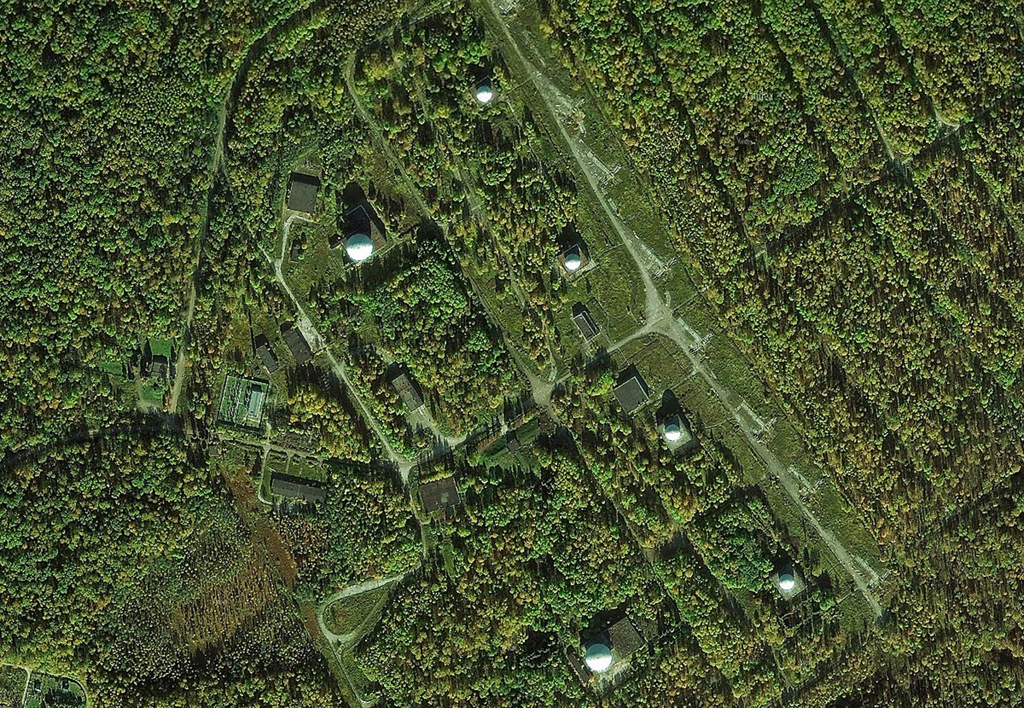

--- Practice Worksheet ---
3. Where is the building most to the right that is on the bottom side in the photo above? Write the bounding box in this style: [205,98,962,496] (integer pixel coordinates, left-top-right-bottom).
[772,564,807,601]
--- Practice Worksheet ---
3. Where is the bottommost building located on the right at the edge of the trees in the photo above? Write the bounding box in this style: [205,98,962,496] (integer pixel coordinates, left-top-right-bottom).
[585,616,644,671]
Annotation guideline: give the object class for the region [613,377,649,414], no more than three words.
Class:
building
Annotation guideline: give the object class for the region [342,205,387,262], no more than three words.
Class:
building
